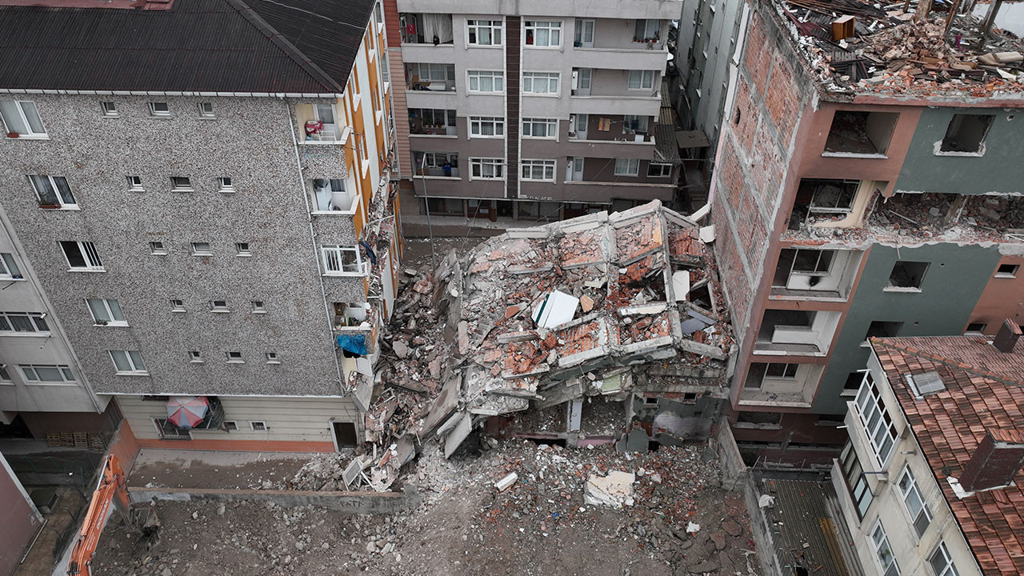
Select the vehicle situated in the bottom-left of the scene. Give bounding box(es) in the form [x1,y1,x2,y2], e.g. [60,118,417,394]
[71,454,166,576]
